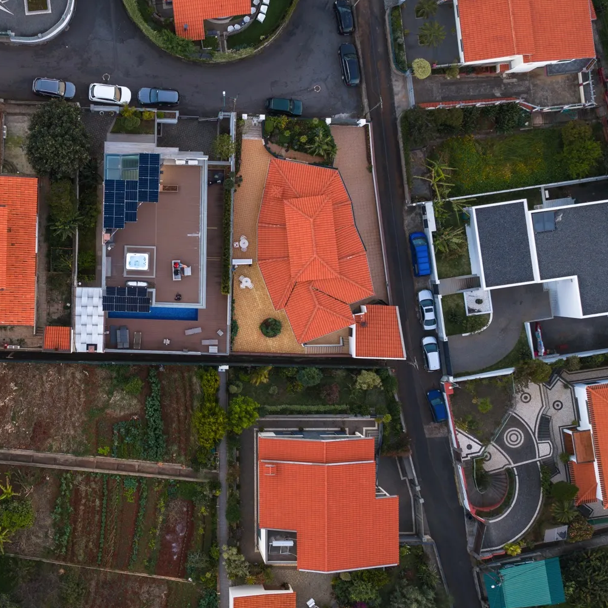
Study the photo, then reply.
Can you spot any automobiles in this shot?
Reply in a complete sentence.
Yes, the photo shows an automobile.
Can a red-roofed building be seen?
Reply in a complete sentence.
Yes, this view includes a red-roofed building.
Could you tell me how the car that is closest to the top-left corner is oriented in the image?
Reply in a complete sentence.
The car that is closest to the top-left corner is laid out from side to side.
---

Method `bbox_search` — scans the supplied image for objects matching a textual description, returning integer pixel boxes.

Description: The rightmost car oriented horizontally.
[264,97,303,116]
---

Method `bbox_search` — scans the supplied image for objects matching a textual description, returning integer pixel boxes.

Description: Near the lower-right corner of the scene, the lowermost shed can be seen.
[478,551,565,608]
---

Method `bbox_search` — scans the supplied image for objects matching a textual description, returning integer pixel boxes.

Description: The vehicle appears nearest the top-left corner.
[32,78,76,100]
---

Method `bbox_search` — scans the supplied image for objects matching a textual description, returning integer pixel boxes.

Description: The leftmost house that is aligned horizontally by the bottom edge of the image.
[226,576,296,608]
